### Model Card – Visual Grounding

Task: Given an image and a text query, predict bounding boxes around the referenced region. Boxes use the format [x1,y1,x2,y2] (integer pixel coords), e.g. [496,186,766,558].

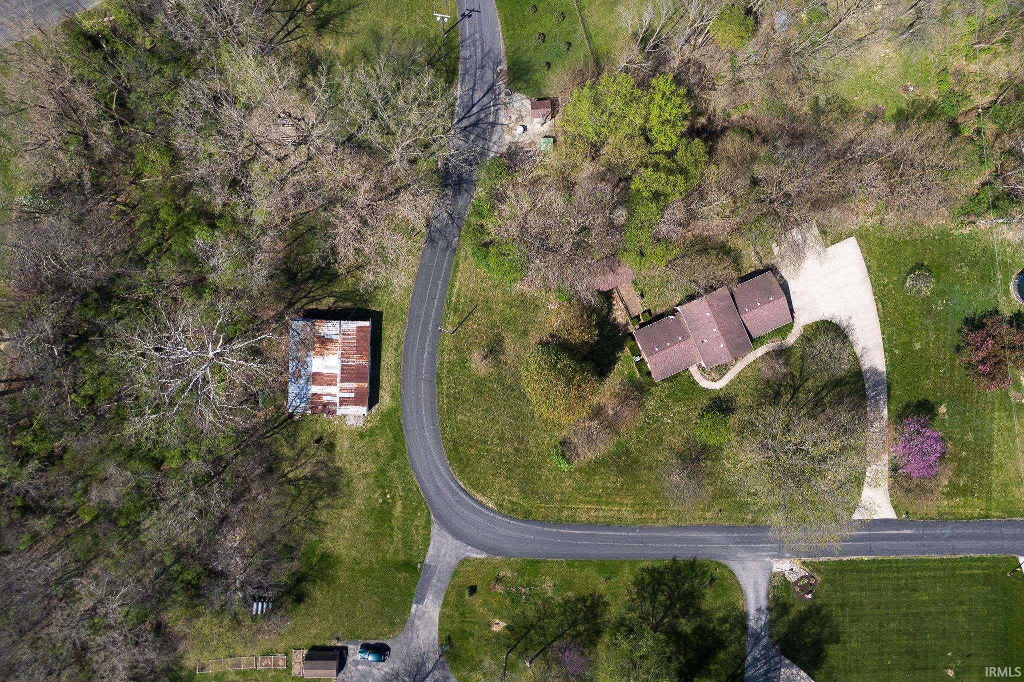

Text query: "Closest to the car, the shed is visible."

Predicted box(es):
[303,653,339,679]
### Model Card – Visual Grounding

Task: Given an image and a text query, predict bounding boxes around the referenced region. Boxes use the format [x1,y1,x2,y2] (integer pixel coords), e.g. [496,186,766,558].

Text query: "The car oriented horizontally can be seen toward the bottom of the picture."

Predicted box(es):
[354,645,390,662]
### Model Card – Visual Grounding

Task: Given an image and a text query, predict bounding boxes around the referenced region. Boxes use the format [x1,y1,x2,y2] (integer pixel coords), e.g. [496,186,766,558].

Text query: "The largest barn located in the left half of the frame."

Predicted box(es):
[287,319,374,417]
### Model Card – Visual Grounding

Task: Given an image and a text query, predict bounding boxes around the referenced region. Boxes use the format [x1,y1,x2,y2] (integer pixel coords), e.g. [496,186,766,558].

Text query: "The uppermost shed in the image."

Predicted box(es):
[530,97,551,117]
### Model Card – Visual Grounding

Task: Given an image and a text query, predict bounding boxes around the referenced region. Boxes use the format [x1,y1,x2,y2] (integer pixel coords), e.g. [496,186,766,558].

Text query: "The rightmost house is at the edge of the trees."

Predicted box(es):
[633,269,793,382]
